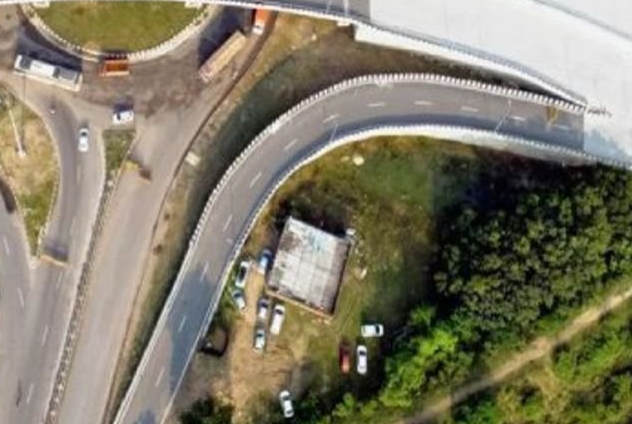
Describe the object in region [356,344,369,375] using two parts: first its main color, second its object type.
white vehicle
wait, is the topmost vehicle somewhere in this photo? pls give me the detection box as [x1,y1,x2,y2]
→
[251,11,270,35]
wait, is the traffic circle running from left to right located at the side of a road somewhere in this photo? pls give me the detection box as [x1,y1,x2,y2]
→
[0,2,236,73]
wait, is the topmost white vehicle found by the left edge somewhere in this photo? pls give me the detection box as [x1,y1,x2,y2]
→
[13,54,85,91]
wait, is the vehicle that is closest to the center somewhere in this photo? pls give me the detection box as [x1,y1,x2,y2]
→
[258,247,274,274]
